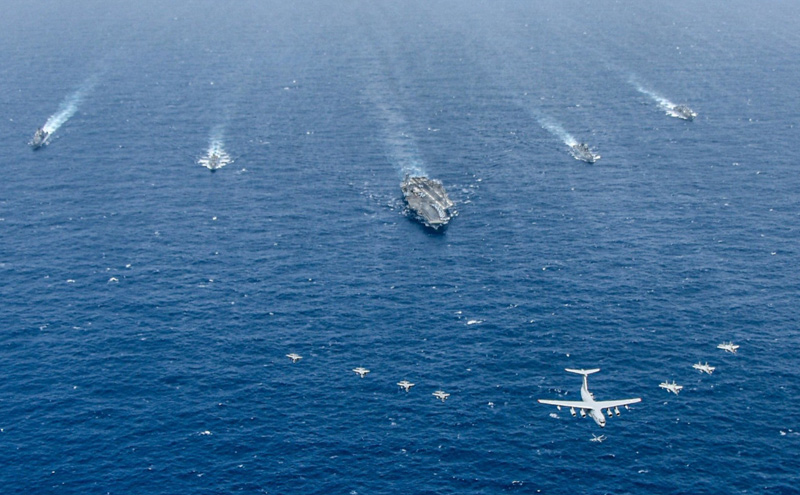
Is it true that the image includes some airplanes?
Yes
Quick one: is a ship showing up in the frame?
Yes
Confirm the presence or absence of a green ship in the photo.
No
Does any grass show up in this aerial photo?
No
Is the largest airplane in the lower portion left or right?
right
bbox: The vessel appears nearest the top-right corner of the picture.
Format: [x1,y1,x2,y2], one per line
[670,105,693,123]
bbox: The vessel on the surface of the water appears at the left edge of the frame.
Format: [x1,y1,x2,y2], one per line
[34,130,50,151]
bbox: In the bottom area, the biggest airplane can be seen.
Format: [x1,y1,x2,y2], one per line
[538,369,642,429]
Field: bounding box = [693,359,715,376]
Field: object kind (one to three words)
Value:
airplane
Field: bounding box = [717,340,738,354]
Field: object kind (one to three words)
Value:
airplane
